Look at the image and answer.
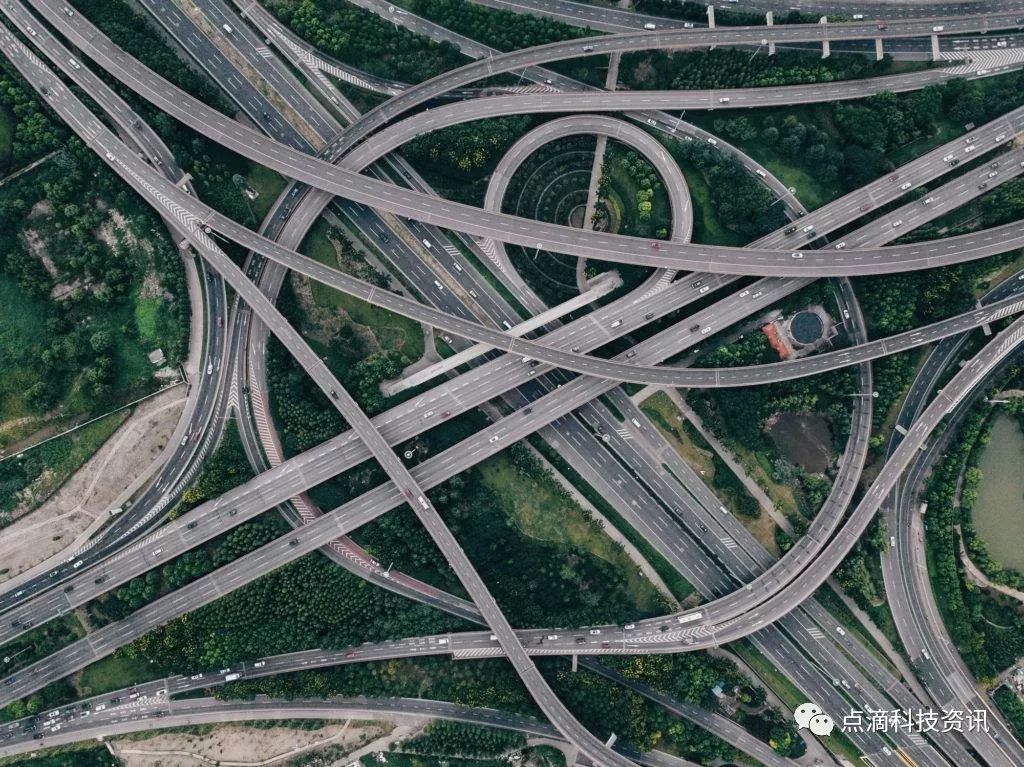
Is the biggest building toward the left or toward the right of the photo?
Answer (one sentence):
The biggest building appears in the right half of the scene.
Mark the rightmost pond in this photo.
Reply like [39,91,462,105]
[972,406,1024,572]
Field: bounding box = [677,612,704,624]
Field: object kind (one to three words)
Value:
vehicle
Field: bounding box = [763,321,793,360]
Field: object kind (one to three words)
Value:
building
